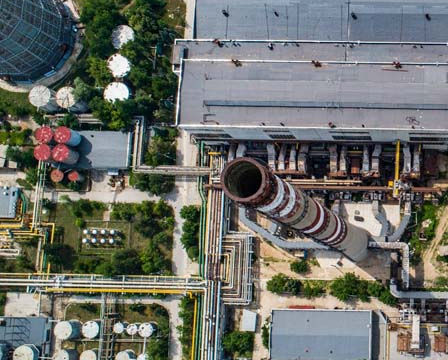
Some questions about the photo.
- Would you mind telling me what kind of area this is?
industrial area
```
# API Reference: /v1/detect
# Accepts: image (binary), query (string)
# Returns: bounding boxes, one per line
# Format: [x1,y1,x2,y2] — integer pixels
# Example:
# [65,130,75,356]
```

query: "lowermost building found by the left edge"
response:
[0,315,56,346]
